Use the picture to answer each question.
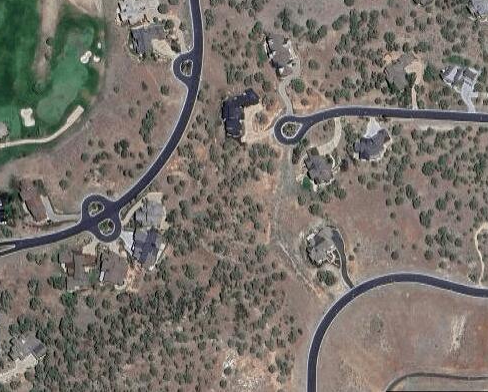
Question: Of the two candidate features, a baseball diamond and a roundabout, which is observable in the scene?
roundabout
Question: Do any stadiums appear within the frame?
No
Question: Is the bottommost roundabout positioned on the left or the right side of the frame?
left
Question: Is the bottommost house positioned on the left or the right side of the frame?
left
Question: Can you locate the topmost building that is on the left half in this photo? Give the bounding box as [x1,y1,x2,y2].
[117,0,160,24]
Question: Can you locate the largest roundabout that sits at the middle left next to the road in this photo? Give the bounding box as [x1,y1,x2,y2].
[72,193,127,242]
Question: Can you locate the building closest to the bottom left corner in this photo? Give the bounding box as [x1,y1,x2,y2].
[10,330,48,361]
